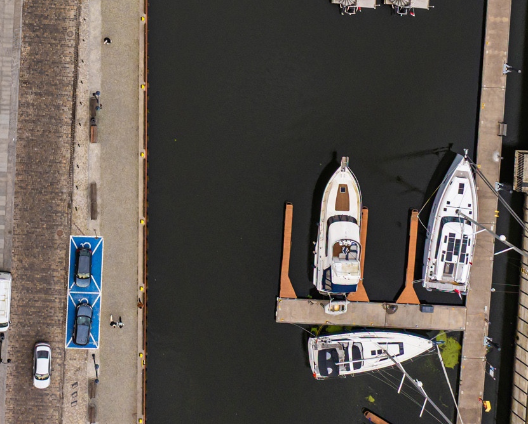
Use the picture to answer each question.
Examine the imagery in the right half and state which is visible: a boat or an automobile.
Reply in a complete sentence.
You can see a boat in the right half.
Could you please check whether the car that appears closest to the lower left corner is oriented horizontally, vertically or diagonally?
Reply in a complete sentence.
Seen from above, the car that appears closest to the lower left corner lies vertically.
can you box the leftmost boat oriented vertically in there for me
[312,157,362,306]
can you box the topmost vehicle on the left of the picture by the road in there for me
[72,248,95,293]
